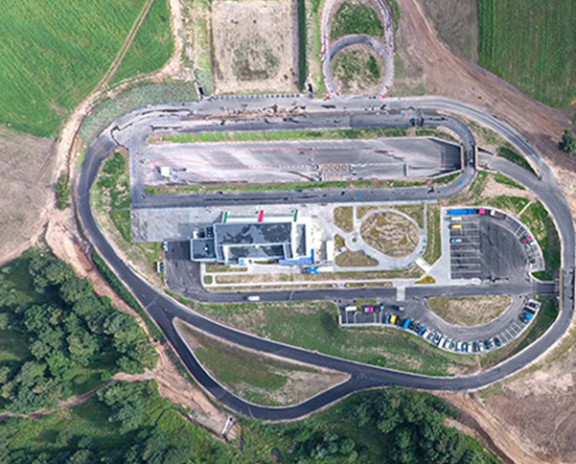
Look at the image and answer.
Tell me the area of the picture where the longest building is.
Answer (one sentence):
The longest building sits in the center section of the image.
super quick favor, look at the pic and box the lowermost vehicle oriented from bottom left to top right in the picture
[220,419,232,435]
